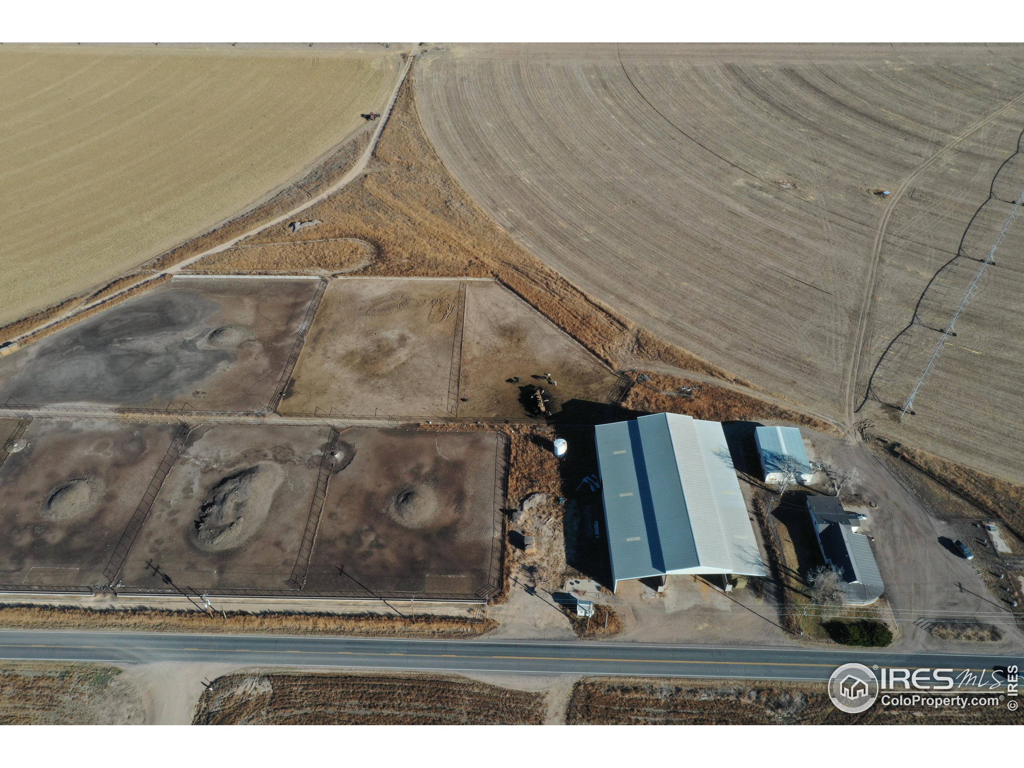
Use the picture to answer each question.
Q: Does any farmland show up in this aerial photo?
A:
Yes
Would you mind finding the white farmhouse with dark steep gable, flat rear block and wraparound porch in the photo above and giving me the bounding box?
[805,496,884,607]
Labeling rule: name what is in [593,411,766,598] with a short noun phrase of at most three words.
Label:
barn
